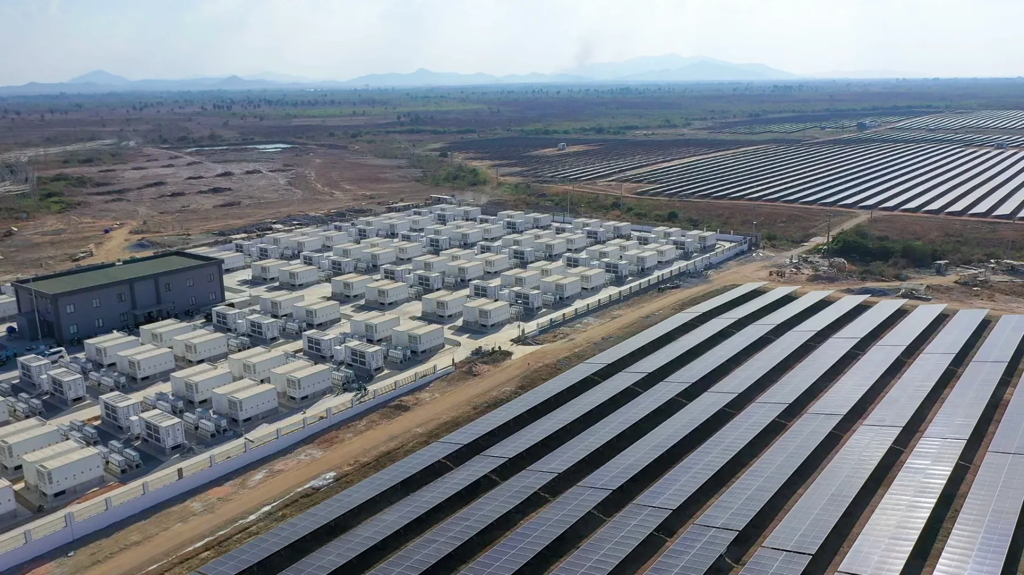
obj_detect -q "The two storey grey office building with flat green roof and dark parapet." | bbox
[0,250,227,345]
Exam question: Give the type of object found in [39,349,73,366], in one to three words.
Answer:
car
